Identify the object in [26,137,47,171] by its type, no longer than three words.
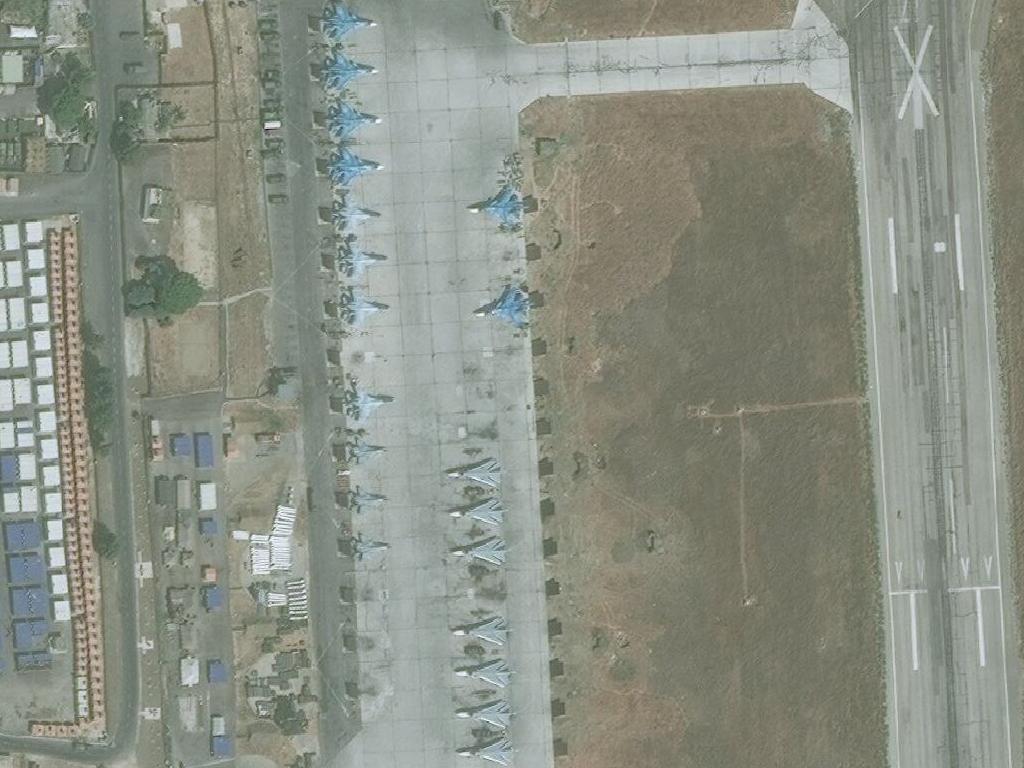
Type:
shed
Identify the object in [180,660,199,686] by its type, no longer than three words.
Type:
building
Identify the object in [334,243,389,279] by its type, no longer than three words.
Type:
airplane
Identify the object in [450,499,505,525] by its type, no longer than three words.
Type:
airplane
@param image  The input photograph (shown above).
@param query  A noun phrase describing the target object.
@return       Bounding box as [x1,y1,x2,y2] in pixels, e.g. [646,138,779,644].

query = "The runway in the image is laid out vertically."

[811,0,1023,768]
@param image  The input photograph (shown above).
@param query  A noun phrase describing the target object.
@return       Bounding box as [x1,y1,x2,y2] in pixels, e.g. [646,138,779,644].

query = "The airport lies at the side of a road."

[257,0,1023,768]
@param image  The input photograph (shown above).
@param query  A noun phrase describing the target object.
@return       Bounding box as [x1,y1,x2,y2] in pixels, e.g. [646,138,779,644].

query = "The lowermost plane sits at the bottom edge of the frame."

[457,740,513,766]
